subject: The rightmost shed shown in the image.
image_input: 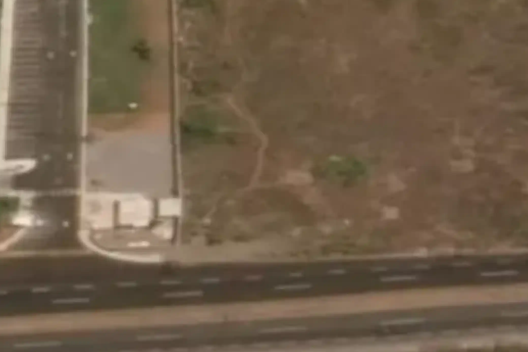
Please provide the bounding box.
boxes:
[159,199,181,223]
